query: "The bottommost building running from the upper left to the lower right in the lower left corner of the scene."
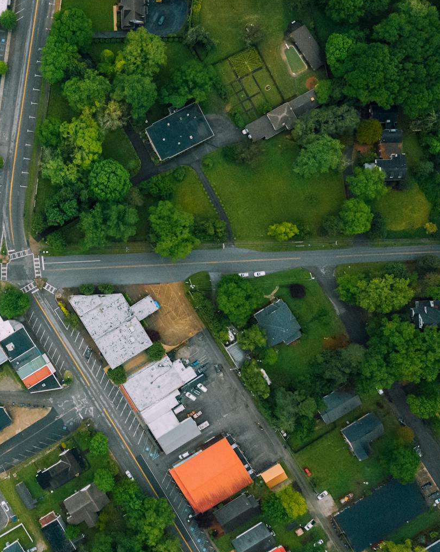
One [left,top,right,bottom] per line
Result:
[38,510,77,552]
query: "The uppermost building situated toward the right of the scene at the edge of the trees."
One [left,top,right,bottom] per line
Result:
[291,25,324,70]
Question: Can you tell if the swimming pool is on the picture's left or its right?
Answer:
right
